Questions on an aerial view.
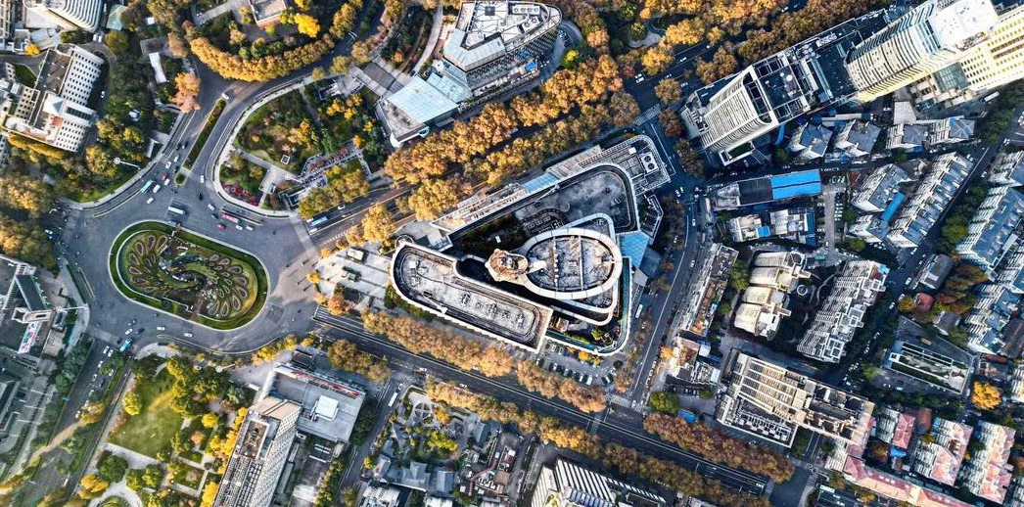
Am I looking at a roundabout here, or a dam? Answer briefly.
roundabout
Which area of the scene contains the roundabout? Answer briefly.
left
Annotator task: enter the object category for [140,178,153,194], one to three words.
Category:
vehicle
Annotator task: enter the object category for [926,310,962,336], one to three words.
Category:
house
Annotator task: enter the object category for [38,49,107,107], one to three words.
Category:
building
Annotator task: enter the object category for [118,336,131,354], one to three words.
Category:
vehicle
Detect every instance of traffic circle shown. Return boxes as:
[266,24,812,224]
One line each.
[108,220,270,330]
